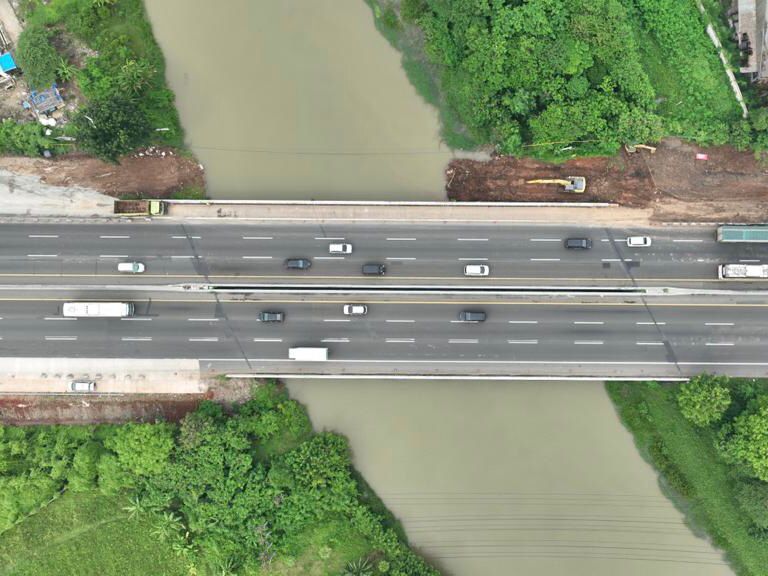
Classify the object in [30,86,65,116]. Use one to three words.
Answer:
shed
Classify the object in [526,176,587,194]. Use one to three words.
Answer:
work vehicle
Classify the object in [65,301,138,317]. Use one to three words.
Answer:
vehicle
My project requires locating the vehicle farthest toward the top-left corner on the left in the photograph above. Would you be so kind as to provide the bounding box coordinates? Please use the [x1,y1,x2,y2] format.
[111,200,167,215]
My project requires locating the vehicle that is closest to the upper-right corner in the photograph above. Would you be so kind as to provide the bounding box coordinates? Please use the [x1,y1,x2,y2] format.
[623,144,655,156]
